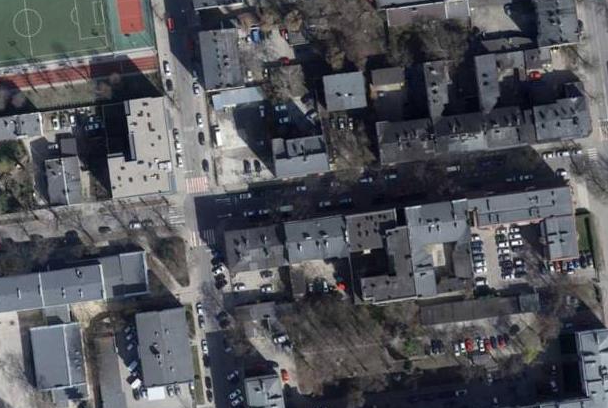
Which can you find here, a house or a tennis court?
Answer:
house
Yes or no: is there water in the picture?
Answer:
No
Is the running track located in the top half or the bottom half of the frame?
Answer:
top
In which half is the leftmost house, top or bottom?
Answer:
top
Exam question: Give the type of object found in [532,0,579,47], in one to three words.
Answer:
house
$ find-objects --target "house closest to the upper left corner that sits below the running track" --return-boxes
[0,112,45,139]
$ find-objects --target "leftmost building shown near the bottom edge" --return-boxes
[30,321,88,408]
